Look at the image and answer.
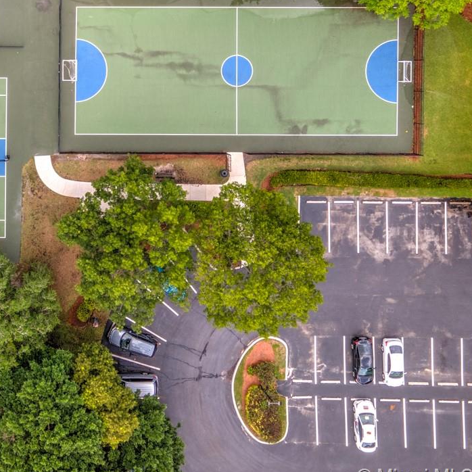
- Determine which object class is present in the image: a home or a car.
car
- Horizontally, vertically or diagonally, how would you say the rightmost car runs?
vertically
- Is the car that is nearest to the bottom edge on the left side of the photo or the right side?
right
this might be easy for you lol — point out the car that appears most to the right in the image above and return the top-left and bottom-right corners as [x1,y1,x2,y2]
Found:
[382,338,408,386]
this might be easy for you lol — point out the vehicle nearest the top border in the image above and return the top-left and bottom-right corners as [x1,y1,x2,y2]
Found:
[106,323,159,356]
